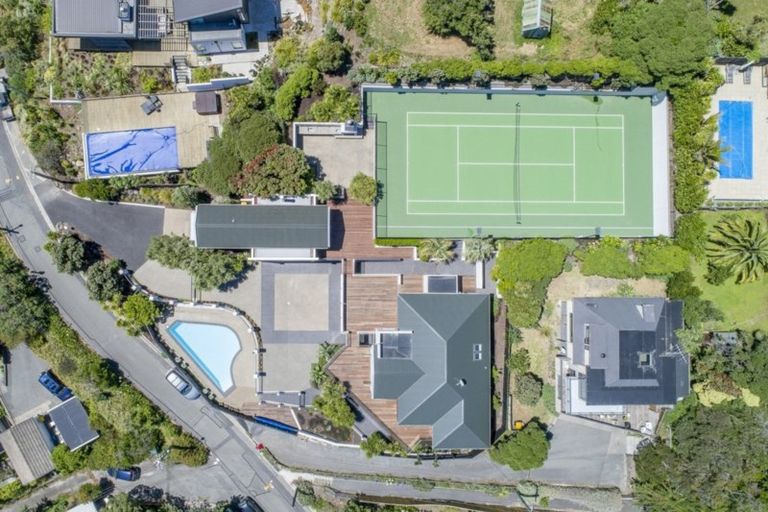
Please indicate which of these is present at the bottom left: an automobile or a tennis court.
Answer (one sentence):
There is an automobile at the bottom left.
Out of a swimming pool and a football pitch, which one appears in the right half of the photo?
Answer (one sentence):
The feature located in the right half of the photo is a swimming pool.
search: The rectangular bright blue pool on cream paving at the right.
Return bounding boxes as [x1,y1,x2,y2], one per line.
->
[718,100,752,179]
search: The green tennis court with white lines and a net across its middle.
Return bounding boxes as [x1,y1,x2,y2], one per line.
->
[365,92,672,238]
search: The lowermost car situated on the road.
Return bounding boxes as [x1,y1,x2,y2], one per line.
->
[231,487,268,512]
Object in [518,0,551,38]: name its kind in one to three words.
greenhouse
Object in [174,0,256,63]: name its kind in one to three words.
house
